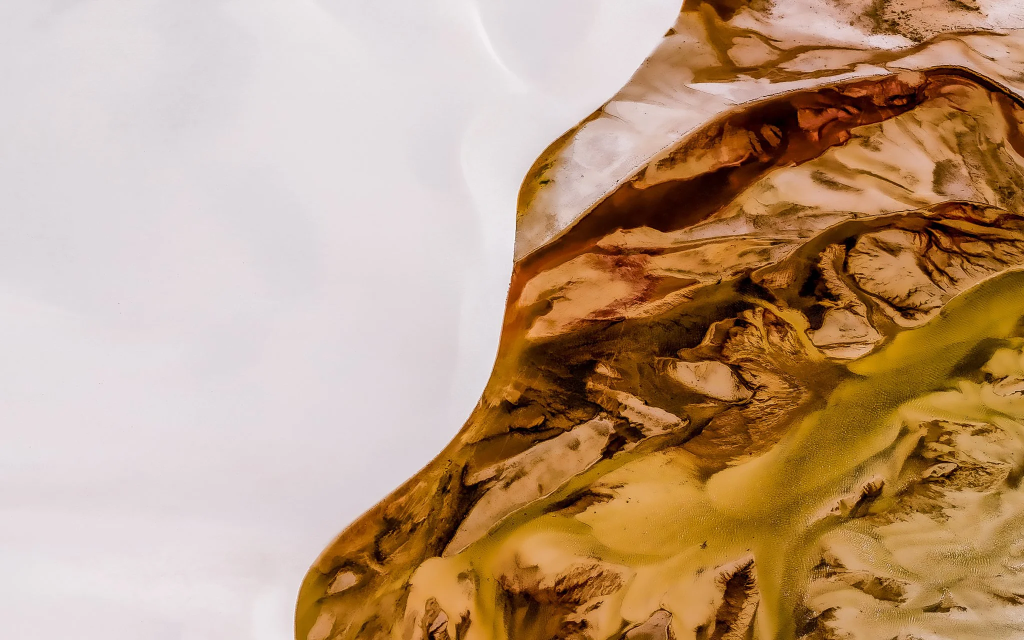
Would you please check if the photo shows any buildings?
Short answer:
No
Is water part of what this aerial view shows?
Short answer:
Yes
